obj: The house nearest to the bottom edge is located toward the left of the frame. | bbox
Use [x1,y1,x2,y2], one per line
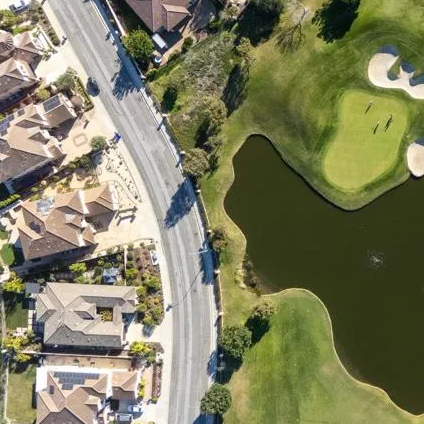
[35,369,140,424]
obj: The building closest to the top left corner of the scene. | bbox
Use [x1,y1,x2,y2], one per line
[0,24,46,113]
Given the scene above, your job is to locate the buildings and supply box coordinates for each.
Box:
[10,184,119,267]
[122,0,192,30]
[0,24,46,113]
[24,282,137,350]
[0,94,78,188]
[101,267,119,281]
[35,369,140,424]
